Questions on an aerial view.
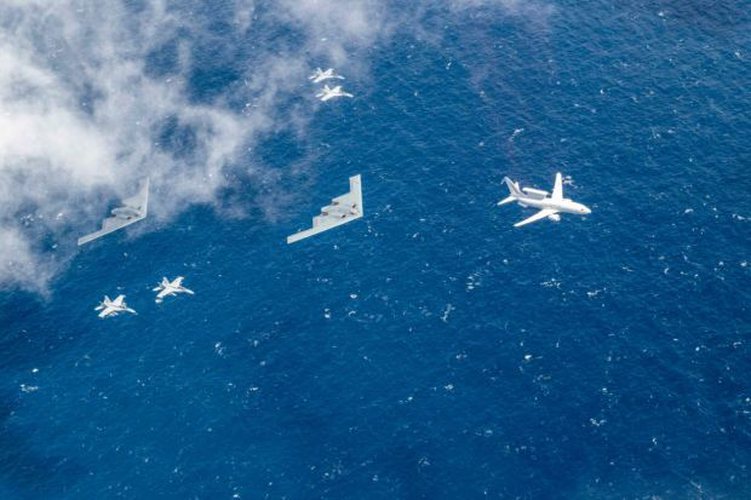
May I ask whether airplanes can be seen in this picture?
Yes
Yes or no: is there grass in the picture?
No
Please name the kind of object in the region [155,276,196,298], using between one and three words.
airplane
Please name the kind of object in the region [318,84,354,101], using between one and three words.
airplane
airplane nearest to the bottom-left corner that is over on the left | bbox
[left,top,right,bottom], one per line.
[97,295,139,318]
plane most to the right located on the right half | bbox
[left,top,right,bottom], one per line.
[498,174,590,227]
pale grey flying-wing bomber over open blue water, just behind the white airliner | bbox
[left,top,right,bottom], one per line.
[287,176,362,243]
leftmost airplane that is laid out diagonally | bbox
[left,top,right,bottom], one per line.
[78,177,148,245]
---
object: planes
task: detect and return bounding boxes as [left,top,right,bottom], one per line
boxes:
[78,177,148,245]
[498,174,590,227]
[287,176,362,243]
[318,84,354,101]
[311,67,345,83]
[97,295,139,318]
[155,276,196,298]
